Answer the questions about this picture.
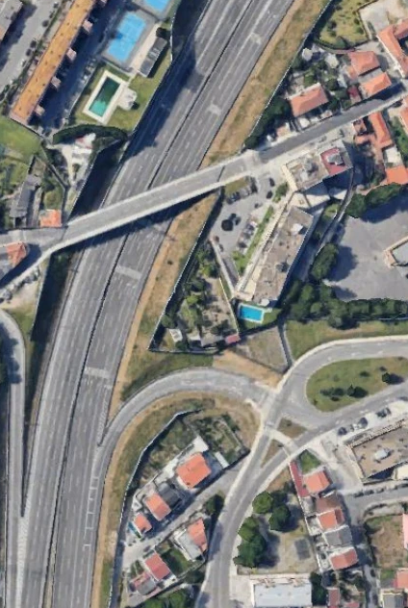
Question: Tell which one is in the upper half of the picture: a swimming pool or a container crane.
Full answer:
You can see a swimming pool in the upper half of the picture.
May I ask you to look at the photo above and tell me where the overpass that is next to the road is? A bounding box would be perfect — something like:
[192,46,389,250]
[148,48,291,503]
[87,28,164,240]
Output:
[55,151,266,247]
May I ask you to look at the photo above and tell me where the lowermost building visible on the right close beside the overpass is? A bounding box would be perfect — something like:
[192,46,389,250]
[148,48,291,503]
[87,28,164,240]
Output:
[250,206,313,305]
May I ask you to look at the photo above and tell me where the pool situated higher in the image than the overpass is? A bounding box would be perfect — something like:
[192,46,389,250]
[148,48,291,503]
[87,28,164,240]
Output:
[80,67,130,121]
